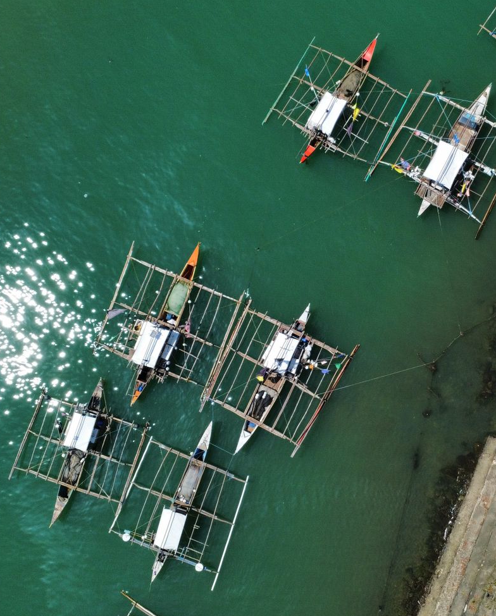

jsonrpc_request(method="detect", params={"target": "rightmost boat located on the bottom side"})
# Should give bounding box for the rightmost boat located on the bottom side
[199,300,360,457]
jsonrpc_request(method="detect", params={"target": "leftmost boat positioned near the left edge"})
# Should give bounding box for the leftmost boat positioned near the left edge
[7,378,149,528]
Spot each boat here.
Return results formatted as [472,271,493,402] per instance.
[369,79,496,238]
[199,300,360,457]
[7,378,149,528]
[108,421,249,592]
[120,592,154,616]
[93,241,244,406]
[263,36,412,180]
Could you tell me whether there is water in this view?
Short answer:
Yes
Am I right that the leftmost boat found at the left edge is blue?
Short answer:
No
